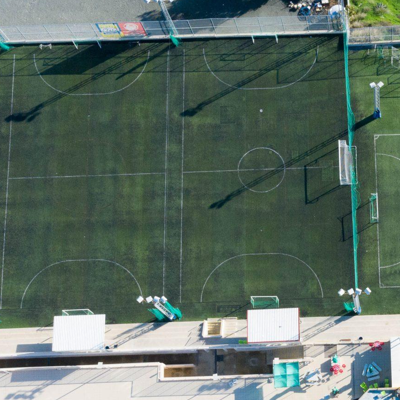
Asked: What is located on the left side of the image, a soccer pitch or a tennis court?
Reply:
soccer pitch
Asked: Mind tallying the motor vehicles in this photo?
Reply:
none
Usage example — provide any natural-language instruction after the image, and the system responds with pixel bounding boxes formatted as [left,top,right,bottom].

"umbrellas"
[274,362,302,390]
